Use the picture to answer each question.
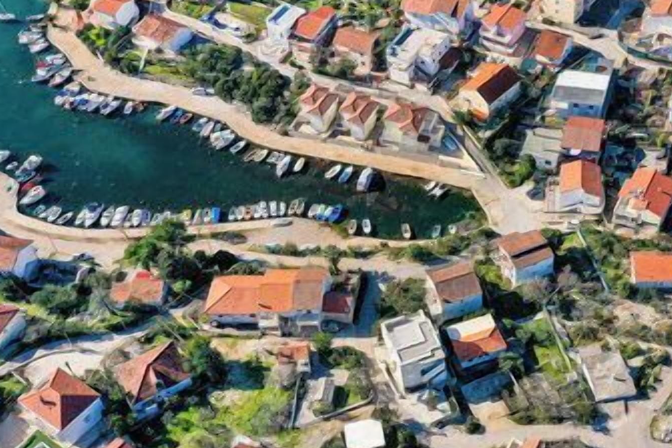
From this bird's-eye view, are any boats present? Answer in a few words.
Yes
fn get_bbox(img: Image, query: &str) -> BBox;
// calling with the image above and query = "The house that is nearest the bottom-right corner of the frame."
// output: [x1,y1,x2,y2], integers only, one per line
[582,353,633,407]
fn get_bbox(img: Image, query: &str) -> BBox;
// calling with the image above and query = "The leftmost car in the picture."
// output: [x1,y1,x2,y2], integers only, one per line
[72,251,94,264]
